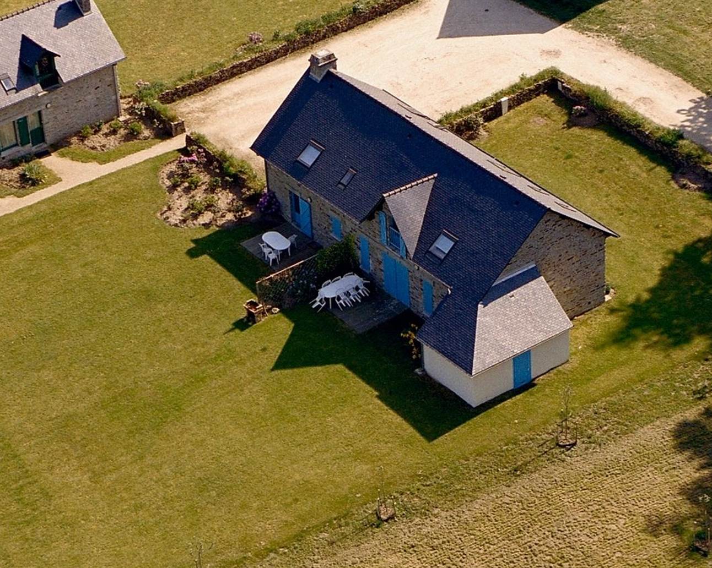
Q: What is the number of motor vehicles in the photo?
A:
none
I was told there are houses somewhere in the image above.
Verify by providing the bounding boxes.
[0,0,126,167]
[250,45,616,408]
